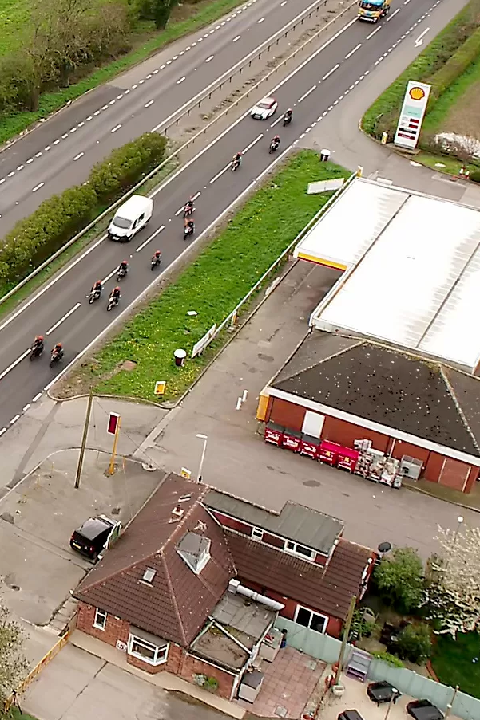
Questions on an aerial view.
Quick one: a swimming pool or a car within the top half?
car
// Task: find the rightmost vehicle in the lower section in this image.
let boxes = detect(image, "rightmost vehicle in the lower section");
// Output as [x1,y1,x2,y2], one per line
[76,514,119,560]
